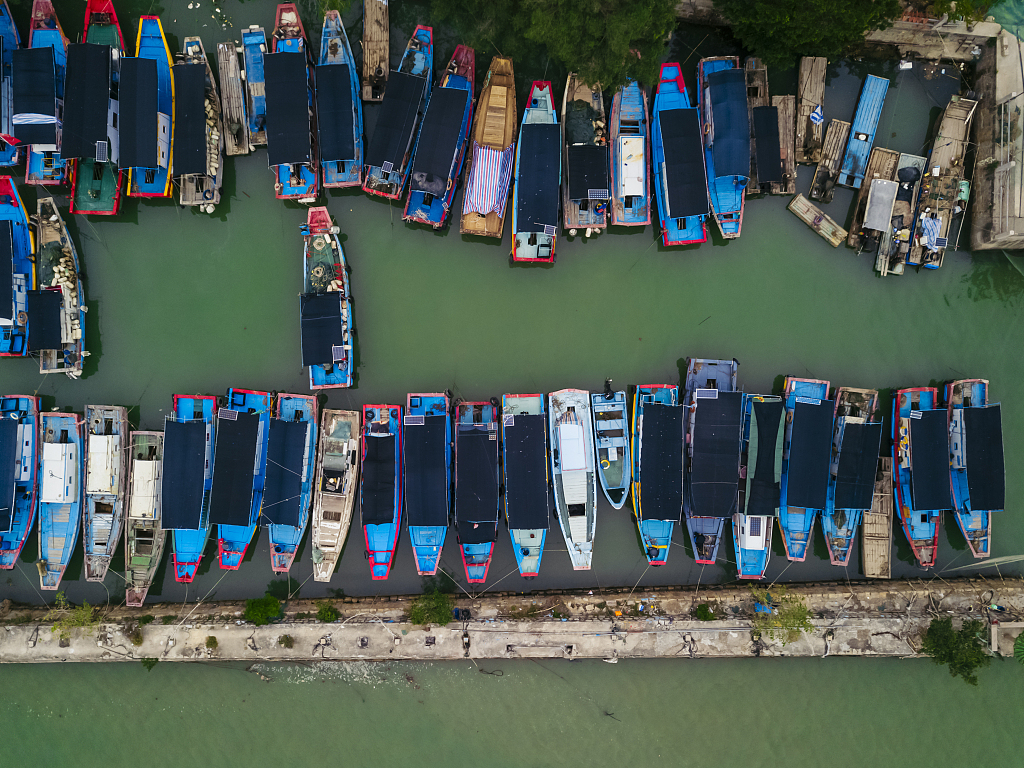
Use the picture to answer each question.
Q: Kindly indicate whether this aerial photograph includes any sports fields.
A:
No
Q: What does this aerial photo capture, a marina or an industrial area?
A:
marina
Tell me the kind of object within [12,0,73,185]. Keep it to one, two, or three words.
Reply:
boat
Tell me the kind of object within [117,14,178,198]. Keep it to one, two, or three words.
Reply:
boat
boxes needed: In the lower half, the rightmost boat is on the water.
[940,379,1005,557]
